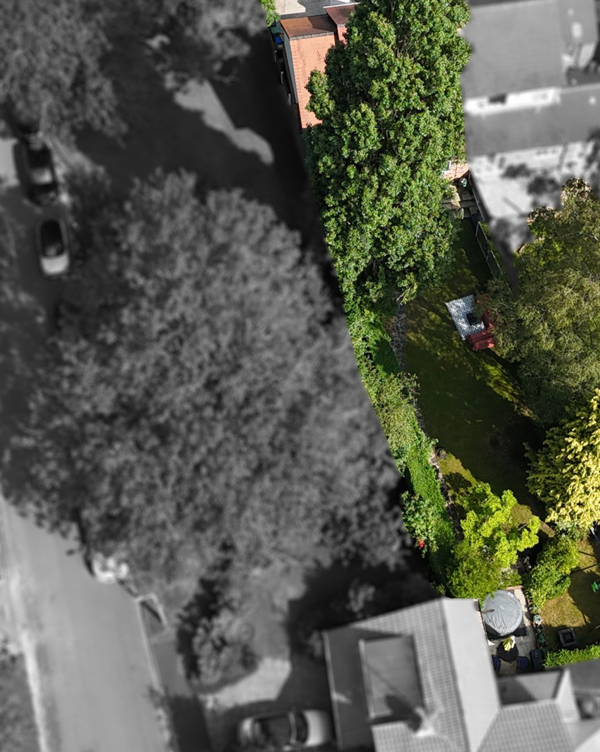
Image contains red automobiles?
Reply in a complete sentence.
No, this view has no red automobile in it.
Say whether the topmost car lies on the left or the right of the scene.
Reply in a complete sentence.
The topmost car appears in the left half of the scene.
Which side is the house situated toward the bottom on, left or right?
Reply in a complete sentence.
The house situated toward the bottom is on the right side of the image.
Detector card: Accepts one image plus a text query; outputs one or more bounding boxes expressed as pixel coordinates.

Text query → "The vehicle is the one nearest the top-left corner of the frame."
[17,134,58,202]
